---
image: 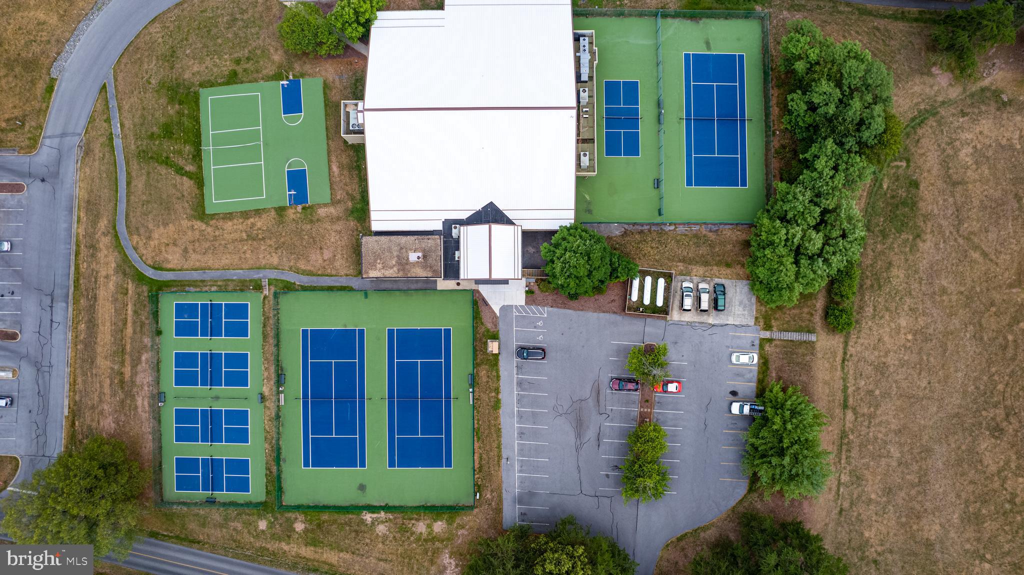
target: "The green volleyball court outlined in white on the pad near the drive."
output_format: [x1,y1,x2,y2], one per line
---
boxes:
[209,93,265,202]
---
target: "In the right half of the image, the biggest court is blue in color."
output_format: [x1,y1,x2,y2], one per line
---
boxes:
[683,52,748,187]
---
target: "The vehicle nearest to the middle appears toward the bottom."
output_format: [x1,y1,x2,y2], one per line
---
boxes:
[517,347,545,361]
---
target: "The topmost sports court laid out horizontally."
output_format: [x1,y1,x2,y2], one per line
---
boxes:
[174,302,250,338]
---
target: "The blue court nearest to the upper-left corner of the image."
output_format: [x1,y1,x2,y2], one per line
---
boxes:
[280,79,303,124]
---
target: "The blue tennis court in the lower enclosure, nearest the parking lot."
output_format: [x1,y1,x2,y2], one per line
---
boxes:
[386,328,453,469]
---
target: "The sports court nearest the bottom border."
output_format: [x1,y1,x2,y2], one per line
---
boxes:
[174,457,251,494]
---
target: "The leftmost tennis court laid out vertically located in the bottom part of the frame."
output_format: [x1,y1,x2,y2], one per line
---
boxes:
[301,328,367,469]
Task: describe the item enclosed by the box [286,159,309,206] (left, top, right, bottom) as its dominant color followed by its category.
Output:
blue basketball court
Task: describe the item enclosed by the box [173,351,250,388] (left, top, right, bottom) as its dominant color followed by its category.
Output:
blue sports court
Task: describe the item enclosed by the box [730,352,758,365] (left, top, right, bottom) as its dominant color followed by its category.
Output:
white vehicle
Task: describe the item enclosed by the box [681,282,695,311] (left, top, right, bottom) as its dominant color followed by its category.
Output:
white car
